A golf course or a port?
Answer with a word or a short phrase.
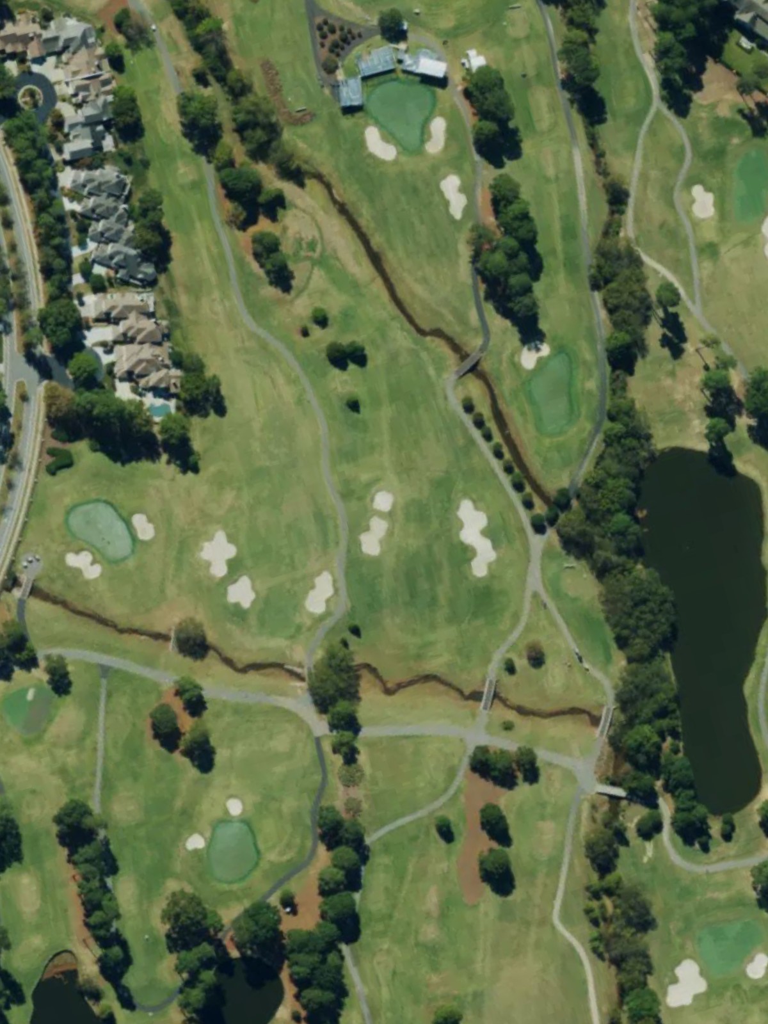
golf course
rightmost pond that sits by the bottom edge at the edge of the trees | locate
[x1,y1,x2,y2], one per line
[195,953,284,1024]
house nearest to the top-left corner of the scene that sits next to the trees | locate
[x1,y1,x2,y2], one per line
[0,14,47,59]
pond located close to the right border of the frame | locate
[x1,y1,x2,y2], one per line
[641,447,768,816]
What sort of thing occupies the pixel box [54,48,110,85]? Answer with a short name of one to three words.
house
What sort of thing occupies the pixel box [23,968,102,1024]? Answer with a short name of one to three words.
pond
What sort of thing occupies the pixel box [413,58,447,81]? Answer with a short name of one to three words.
building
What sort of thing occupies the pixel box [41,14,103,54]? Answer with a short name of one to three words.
house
